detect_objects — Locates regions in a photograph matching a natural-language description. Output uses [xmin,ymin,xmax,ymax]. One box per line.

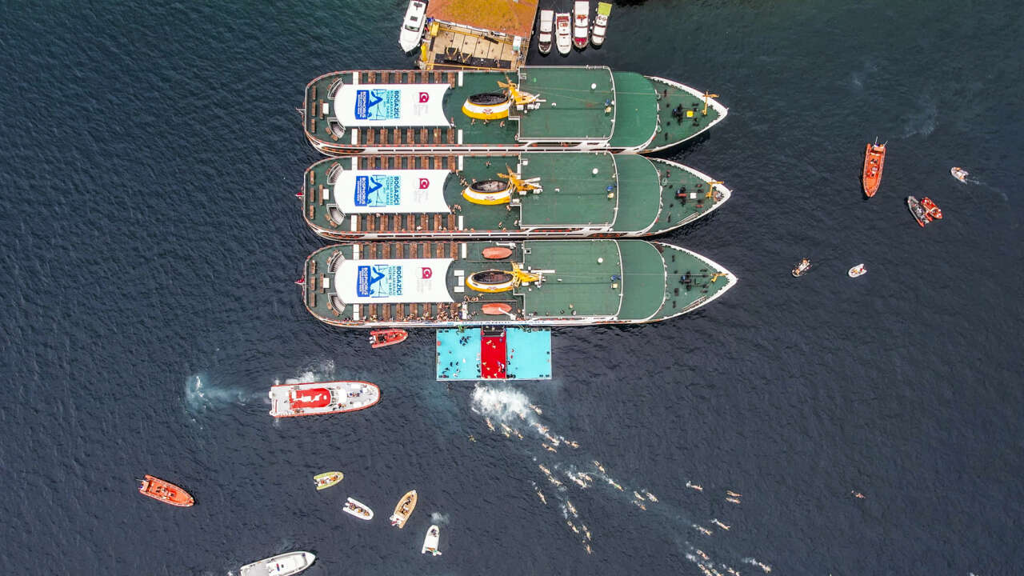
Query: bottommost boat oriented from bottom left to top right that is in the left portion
[388,492,417,528]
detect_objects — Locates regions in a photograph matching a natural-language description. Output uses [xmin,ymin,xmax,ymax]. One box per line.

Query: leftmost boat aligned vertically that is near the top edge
[401,0,429,52]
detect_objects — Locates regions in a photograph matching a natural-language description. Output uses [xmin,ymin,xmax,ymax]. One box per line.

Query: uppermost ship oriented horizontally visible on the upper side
[292,65,728,158]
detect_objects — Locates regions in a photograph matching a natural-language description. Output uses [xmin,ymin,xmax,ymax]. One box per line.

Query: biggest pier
[422,8,539,72]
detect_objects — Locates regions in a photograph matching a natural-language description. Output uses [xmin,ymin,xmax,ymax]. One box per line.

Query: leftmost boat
[137,477,193,506]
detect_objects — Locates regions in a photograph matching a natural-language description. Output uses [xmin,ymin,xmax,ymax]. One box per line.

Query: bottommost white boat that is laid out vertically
[424,526,438,557]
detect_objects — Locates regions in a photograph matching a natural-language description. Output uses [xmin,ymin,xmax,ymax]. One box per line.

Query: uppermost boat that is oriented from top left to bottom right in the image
[950,168,971,184]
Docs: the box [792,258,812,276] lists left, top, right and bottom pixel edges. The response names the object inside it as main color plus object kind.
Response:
white boat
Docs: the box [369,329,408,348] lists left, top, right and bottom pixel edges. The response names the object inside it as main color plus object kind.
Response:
red boat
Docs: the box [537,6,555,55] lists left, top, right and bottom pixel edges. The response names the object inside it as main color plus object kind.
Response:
white boat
